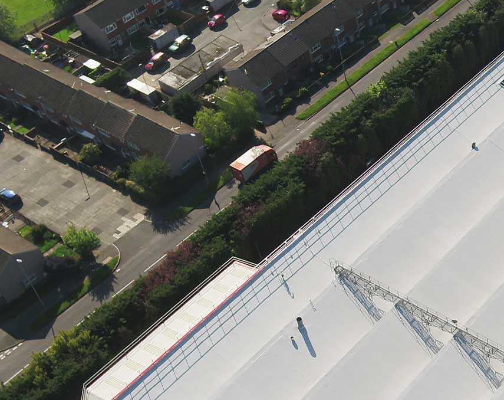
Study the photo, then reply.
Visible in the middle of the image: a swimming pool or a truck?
truck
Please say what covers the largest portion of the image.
buildings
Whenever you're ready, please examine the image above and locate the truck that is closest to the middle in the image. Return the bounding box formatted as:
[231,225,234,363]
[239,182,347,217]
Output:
[226,142,276,183]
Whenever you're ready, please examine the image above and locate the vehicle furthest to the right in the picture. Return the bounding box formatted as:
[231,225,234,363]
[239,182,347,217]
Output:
[268,6,293,23]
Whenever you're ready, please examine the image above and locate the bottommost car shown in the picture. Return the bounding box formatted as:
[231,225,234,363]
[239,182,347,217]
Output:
[0,190,26,207]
